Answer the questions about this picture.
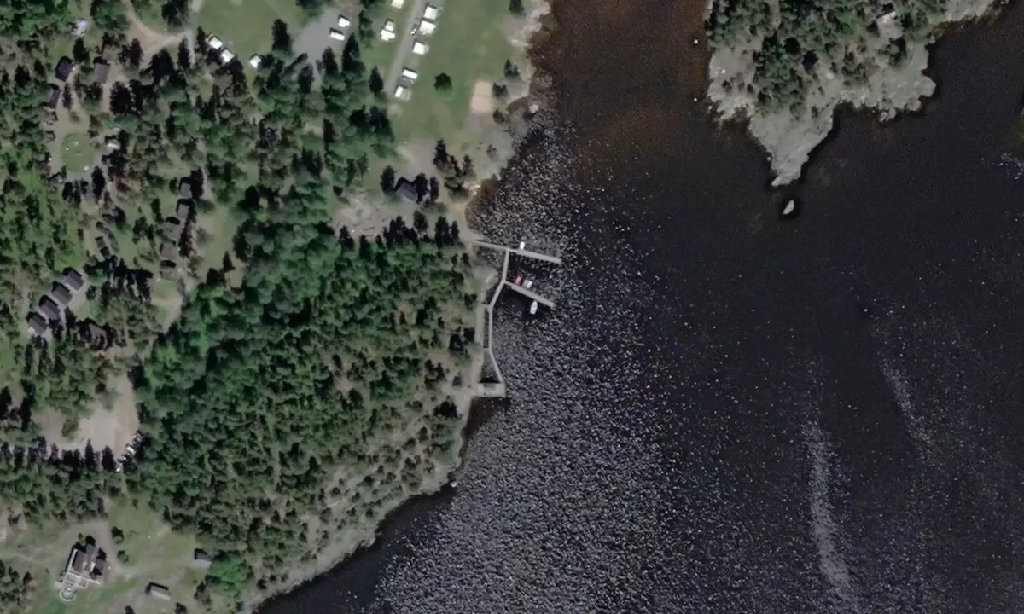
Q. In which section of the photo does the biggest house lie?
bottom left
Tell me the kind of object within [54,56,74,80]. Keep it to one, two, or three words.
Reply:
house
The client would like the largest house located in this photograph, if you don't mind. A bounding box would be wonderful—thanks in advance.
[60,546,107,602]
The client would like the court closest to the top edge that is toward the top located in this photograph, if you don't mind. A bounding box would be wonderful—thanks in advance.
[471,80,492,114]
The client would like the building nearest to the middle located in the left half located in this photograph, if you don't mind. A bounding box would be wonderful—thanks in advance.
[393,178,418,201]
